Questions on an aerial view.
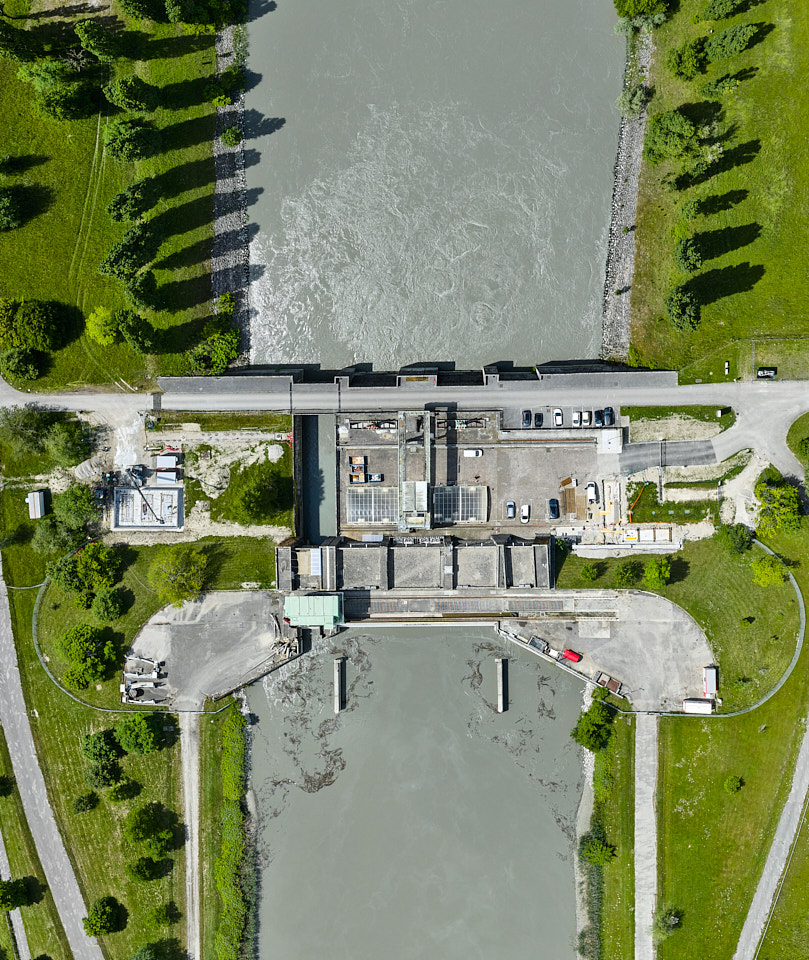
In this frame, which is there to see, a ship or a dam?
dam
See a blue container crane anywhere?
No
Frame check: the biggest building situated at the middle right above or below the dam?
above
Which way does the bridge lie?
from left to right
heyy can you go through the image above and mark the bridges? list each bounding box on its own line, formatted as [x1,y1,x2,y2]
[157,366,679,414]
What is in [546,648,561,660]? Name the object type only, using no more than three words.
vehicle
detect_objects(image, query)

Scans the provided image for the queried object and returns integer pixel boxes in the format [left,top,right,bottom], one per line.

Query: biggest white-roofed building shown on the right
[600,429,625,452]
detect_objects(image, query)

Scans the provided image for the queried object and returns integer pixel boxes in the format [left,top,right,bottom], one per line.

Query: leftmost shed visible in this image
[23,491,45,519]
